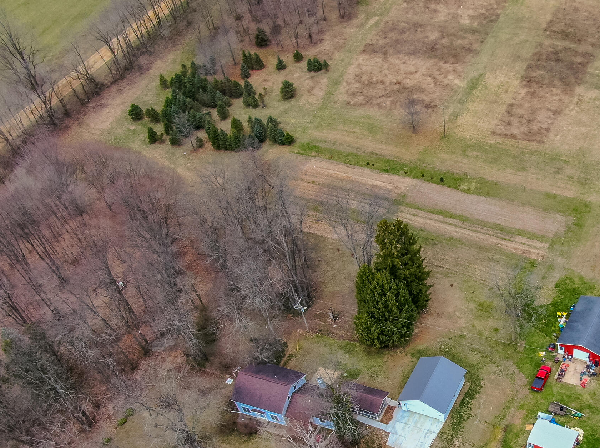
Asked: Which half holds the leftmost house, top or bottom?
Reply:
bottom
